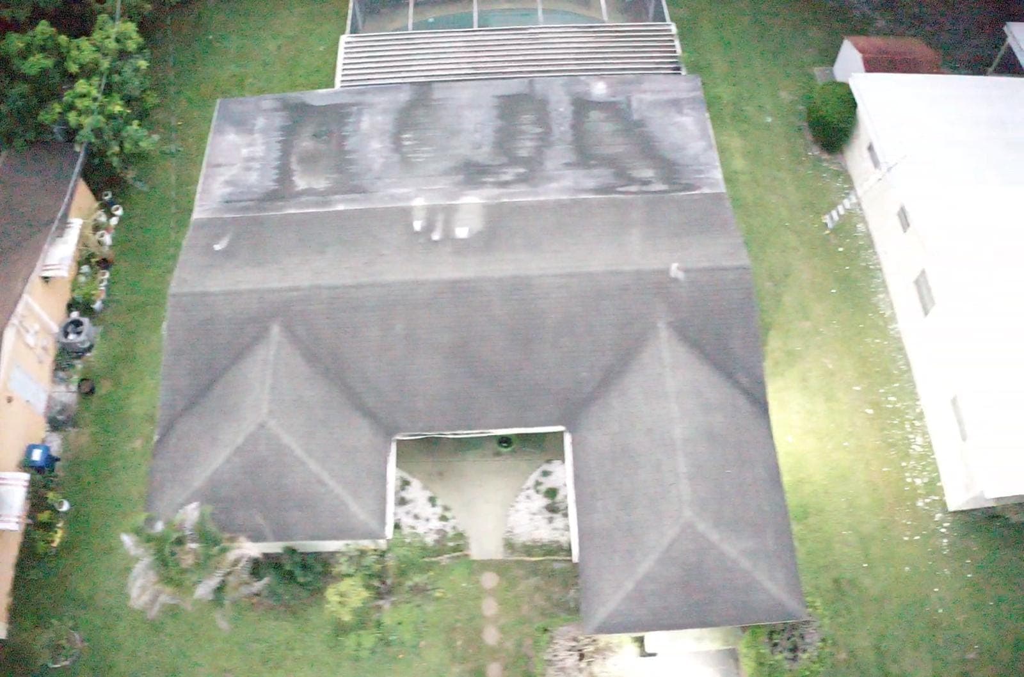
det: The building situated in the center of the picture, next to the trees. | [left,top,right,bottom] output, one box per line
[147,75,808,637]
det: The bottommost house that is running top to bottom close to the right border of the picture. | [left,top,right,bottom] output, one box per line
[842,64,1024,513]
